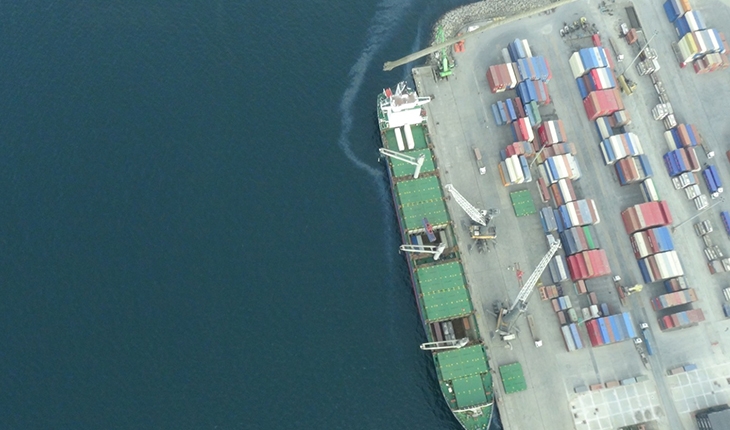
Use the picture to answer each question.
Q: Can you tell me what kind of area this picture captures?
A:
port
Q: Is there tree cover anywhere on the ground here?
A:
No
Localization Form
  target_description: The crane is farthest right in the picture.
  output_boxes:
[486,237,561,343]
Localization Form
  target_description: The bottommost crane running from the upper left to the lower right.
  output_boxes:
[443,183,498,250]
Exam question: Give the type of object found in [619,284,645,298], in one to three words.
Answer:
work vehicle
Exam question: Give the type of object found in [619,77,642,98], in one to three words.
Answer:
work vehicle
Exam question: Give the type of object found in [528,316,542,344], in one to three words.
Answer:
vehicle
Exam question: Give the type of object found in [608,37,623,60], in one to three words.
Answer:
vehicle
